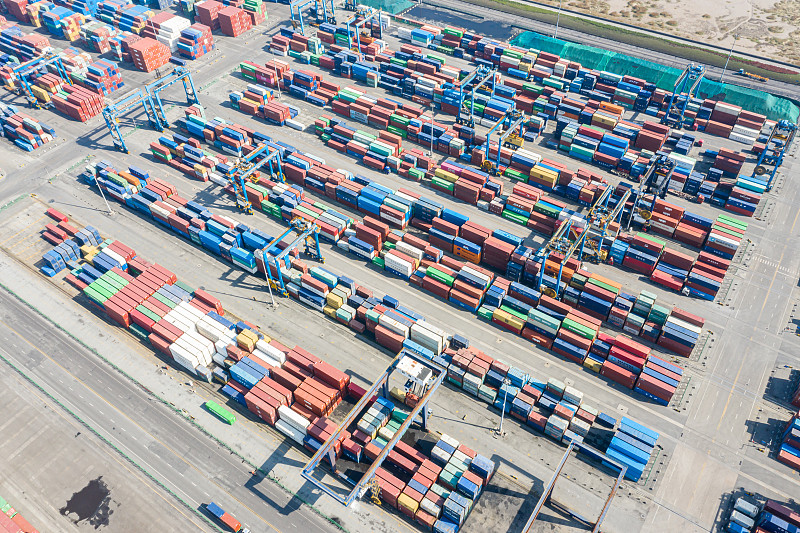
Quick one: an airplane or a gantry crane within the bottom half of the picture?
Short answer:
gantry crane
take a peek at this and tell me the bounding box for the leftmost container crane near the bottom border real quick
[298,350,446,510]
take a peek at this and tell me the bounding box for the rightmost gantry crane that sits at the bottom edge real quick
[519,442,628,533]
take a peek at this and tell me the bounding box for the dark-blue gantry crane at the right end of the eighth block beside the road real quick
[752,119,799,191]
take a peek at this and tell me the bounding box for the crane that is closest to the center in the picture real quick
[259,216,328,301]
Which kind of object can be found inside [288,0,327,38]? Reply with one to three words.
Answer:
container crane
